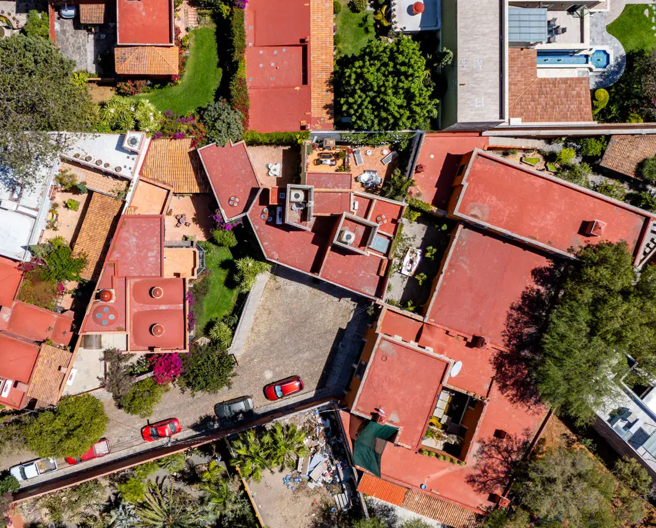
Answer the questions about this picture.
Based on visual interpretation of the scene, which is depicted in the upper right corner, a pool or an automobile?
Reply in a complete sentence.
What appears in the upper right corner is a pool.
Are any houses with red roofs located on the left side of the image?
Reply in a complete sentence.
Yes, the scene does show a house with a red roof on the left side of the image.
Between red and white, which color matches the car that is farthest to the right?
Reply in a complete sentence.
The color of the car that is farthest to the right is red.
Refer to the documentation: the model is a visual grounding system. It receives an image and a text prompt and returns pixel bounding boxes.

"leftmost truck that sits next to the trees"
[10,455,60,482]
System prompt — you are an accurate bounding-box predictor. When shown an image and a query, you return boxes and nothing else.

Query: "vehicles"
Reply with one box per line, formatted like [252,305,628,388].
[68,437,115,465]
[59,7,76,30]
[140,417,182,442]
[262,375,306,401]
[212,394,256,420]
[10,455,60,482]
